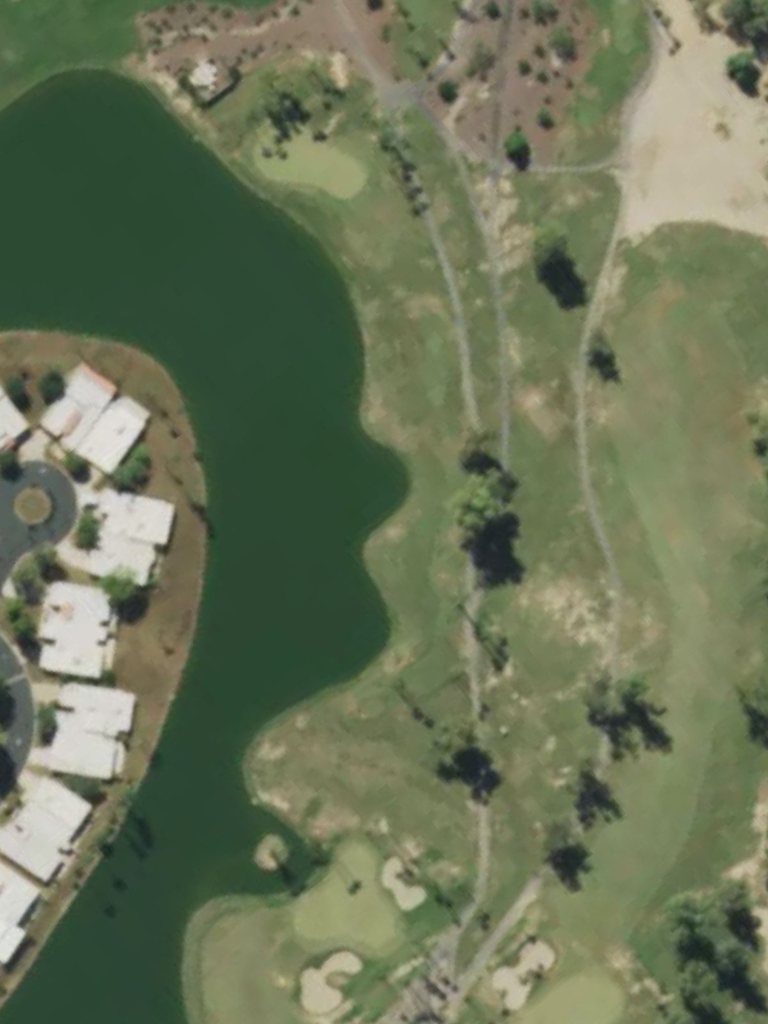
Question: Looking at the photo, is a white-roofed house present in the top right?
No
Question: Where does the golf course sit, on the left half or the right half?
right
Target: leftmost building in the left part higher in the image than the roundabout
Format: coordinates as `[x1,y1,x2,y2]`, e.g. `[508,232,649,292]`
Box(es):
[0,386,30,450]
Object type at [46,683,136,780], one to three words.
house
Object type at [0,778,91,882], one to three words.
house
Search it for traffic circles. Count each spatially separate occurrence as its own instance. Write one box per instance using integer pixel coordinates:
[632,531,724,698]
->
[13,485,52,524]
